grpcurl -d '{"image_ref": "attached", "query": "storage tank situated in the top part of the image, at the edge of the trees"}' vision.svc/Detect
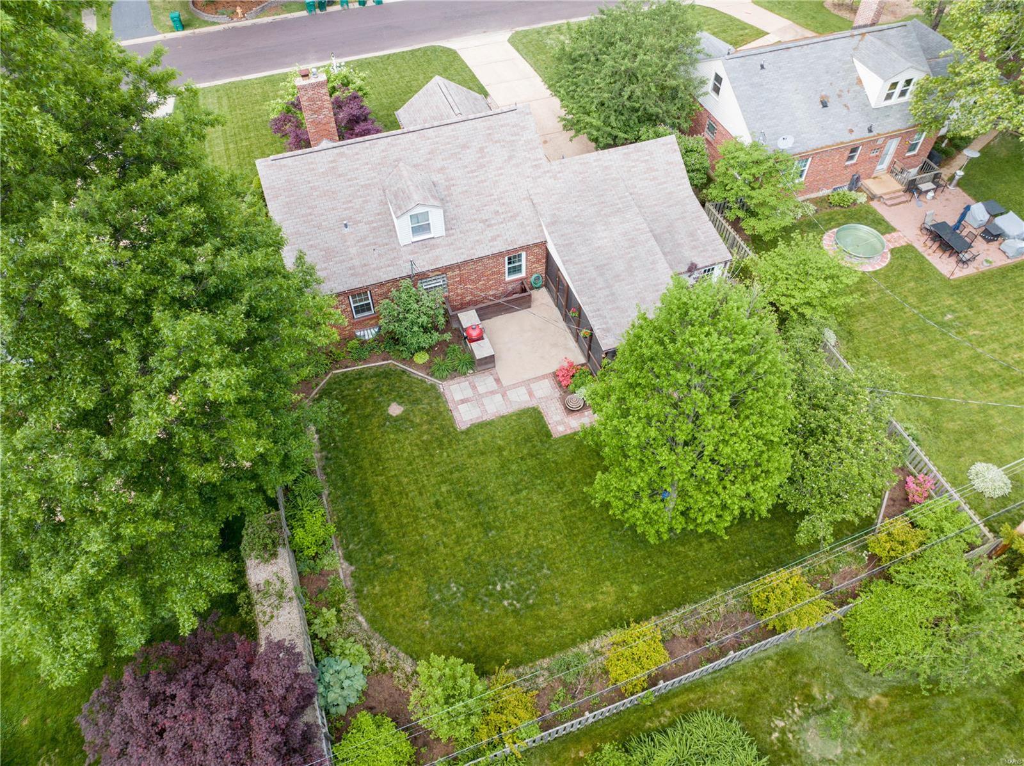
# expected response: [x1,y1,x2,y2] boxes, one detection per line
[837,226,896,271]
